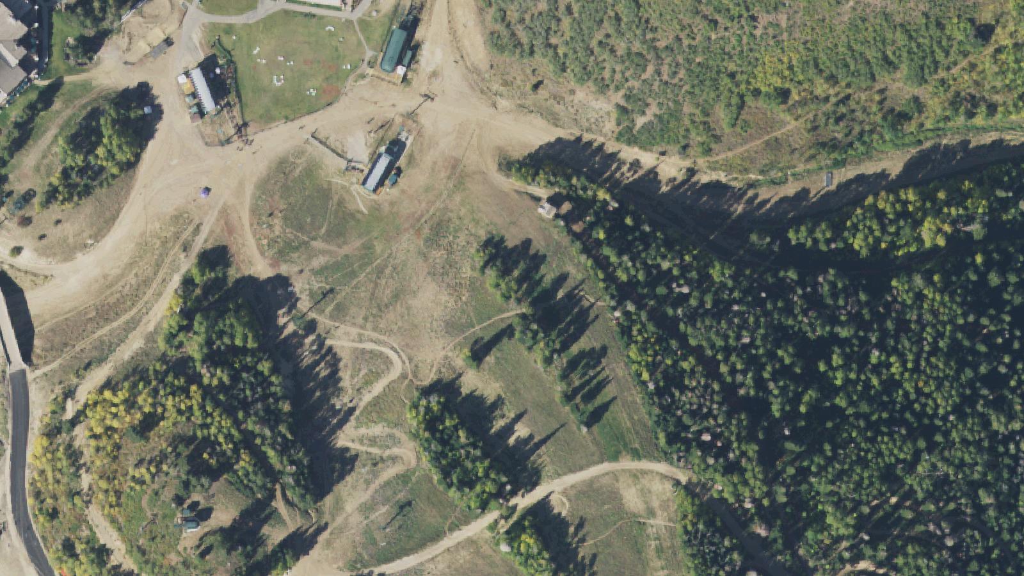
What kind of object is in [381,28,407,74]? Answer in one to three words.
building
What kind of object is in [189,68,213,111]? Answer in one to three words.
building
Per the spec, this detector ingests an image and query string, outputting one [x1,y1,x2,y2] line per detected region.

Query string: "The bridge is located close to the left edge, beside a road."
[0,291,31,370]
